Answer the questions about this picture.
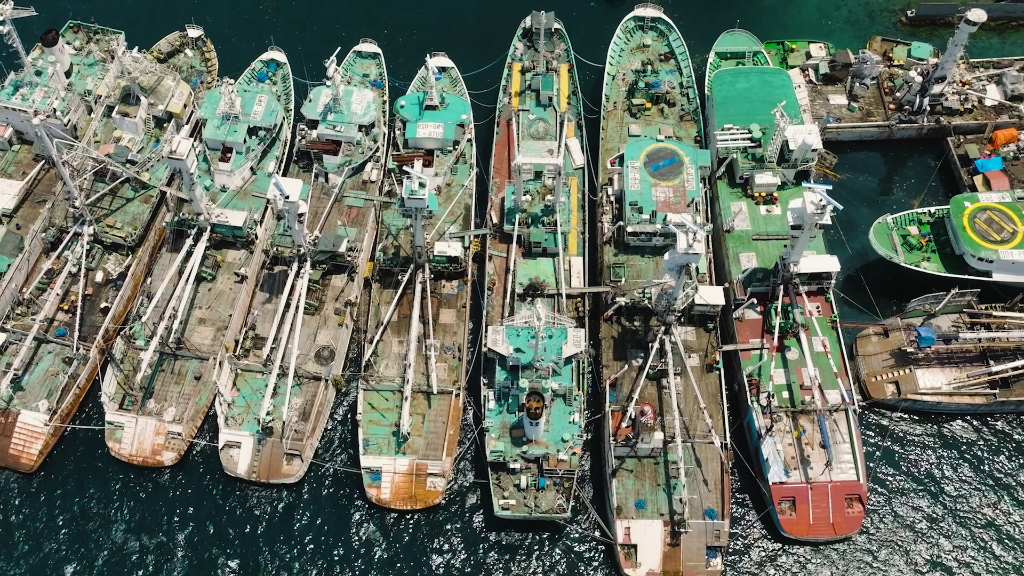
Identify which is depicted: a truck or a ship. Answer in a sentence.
The one in the frame is a ship.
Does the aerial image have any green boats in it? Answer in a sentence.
Yes, looking at the shot, I can spot a green boat.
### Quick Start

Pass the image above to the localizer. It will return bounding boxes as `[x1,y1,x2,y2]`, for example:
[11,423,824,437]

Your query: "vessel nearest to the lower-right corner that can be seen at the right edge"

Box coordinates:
[850,287,1024,420]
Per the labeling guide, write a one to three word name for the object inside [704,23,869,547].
ship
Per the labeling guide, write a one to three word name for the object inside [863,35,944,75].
boat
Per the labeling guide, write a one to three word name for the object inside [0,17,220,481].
vessel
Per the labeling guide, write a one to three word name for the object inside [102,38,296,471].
vessel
